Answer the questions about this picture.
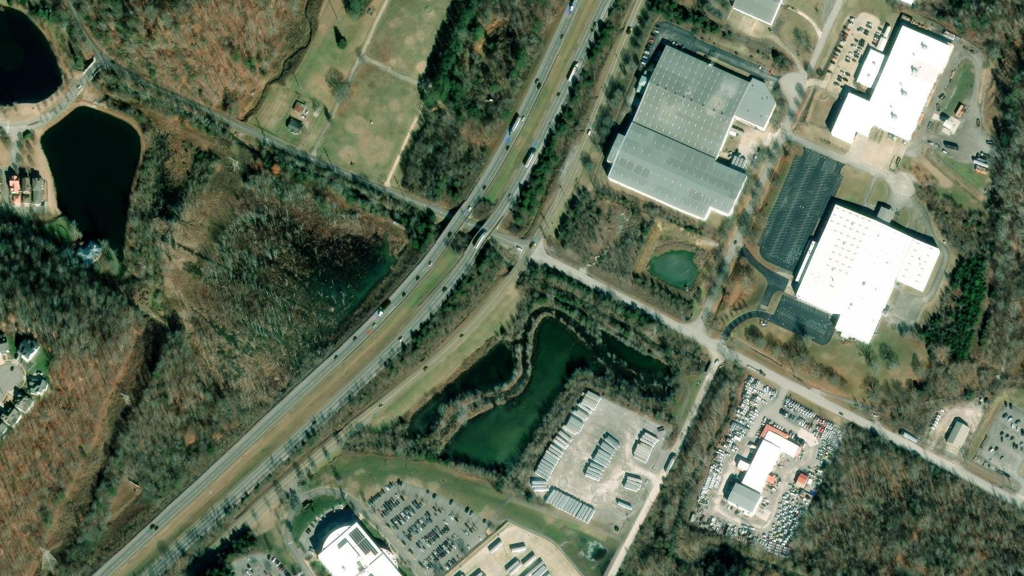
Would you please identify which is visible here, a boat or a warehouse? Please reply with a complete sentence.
Of the two, only a warehouse appears.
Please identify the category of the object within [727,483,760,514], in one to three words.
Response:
barn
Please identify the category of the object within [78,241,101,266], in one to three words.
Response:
house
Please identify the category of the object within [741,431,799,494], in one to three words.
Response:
building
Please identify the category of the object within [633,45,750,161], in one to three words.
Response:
warehouse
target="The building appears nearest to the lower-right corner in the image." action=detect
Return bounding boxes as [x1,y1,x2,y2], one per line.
[947,421,969,449]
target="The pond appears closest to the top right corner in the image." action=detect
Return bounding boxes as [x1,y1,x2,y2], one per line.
[648,250,699,289]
